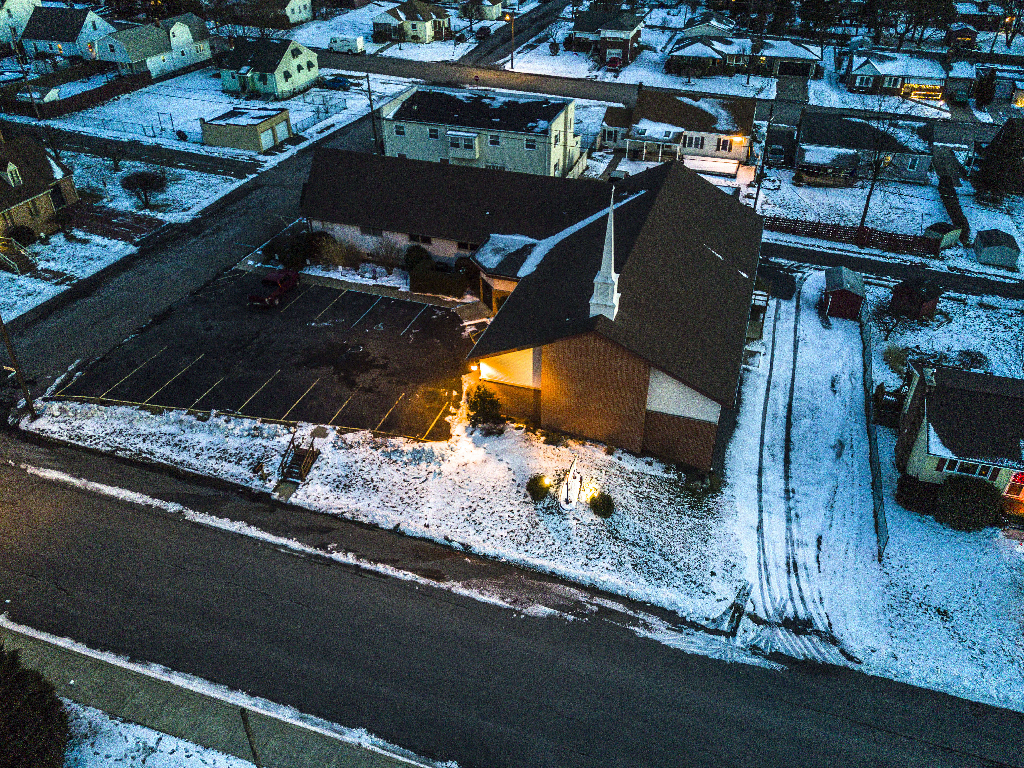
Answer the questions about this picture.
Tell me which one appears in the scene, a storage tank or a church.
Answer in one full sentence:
It is a church that can be seen here.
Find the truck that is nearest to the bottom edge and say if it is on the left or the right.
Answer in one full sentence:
The truck that is nearest to the bottom edge is on the left side of the image.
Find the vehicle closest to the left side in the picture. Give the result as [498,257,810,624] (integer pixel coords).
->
[251,262,311,303]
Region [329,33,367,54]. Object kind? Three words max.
vehicle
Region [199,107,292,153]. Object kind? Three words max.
building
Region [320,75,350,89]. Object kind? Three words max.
car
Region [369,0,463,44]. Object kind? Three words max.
house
